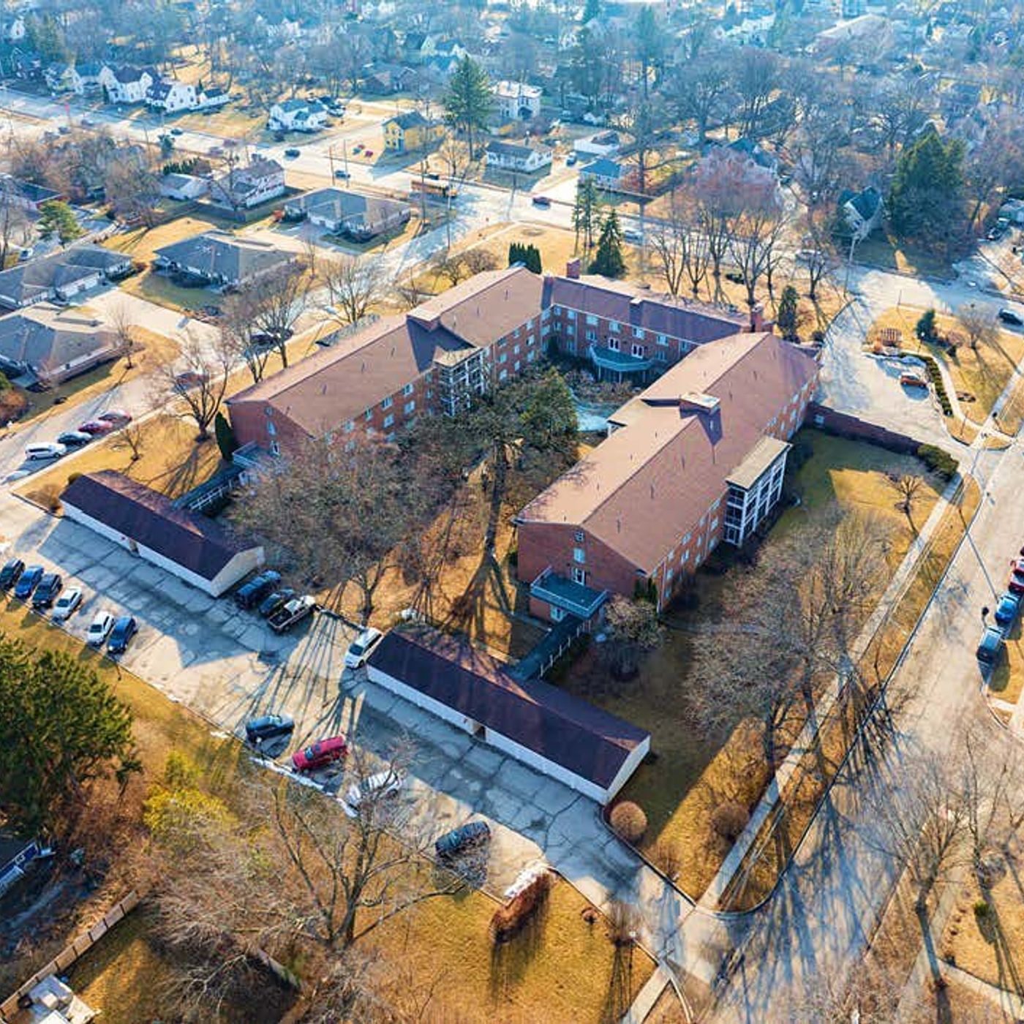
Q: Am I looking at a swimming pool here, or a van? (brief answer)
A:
van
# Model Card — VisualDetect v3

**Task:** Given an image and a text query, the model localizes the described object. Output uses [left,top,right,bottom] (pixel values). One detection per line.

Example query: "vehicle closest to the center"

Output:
[342,627,385,668]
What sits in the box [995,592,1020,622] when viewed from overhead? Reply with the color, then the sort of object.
blue car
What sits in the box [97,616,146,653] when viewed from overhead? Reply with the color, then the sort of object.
blue car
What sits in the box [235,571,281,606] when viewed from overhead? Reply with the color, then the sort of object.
blue van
